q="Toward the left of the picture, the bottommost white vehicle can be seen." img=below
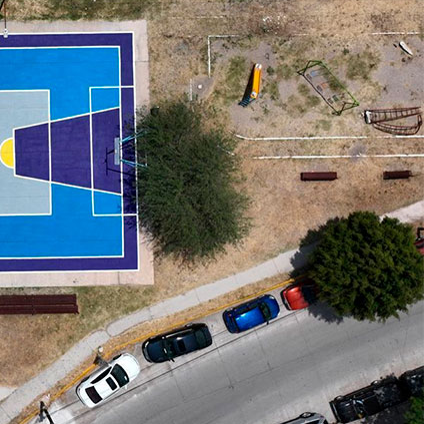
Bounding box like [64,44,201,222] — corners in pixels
[75,353,142,411]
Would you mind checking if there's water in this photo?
No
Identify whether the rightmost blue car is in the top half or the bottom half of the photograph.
bottom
